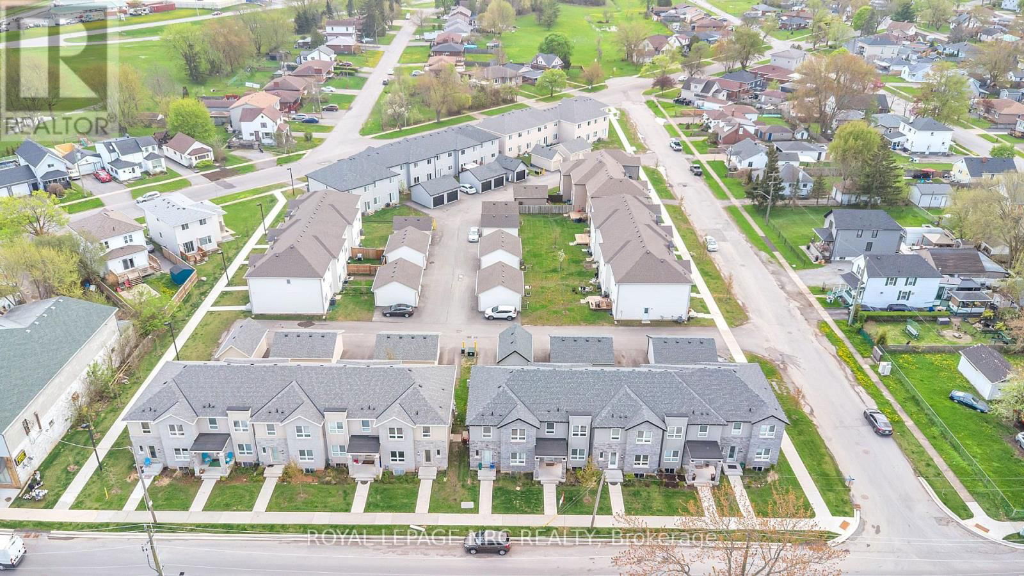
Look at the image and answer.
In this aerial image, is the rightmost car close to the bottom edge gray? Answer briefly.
Yes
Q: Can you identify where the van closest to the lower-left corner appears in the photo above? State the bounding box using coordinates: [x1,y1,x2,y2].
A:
[0,528,35,567]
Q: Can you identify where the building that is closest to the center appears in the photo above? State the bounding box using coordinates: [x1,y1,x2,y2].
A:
[476,259,523,307]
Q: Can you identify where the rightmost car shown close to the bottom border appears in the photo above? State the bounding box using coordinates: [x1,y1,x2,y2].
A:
[462,529,512,556]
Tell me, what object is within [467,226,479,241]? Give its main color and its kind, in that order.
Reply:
white vehicle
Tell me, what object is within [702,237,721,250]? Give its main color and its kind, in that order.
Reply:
white vehicle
